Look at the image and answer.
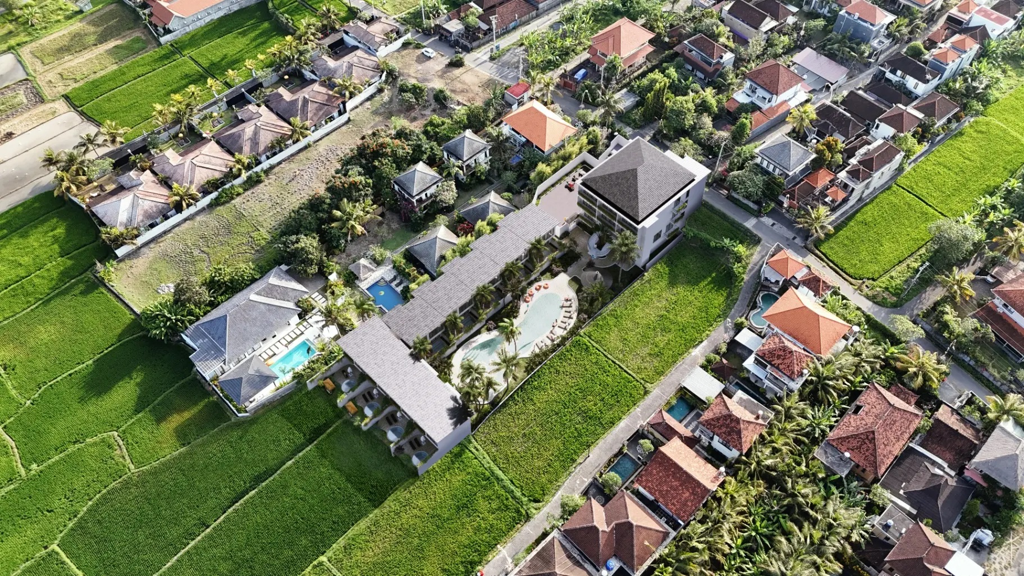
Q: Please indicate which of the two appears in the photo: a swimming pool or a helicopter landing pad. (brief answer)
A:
swimming pool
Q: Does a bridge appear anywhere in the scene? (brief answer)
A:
No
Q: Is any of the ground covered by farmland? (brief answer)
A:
Yes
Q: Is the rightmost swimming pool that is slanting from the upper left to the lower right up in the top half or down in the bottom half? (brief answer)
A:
bottom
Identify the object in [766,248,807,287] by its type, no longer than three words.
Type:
building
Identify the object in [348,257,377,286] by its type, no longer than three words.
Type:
gazebo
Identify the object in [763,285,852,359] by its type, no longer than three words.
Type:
house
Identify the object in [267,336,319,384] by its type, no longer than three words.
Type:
swimming pool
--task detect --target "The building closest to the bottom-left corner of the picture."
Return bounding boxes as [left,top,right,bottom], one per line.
[216,353,277,407]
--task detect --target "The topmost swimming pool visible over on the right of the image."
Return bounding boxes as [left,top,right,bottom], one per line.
[749,290,781,331]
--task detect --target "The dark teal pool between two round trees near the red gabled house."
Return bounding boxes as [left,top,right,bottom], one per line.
[611,450,644,478]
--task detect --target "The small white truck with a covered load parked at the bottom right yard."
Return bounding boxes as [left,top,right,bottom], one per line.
[971,524,1000,553]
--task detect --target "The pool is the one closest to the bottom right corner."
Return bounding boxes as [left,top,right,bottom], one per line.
[730,378,769,404]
